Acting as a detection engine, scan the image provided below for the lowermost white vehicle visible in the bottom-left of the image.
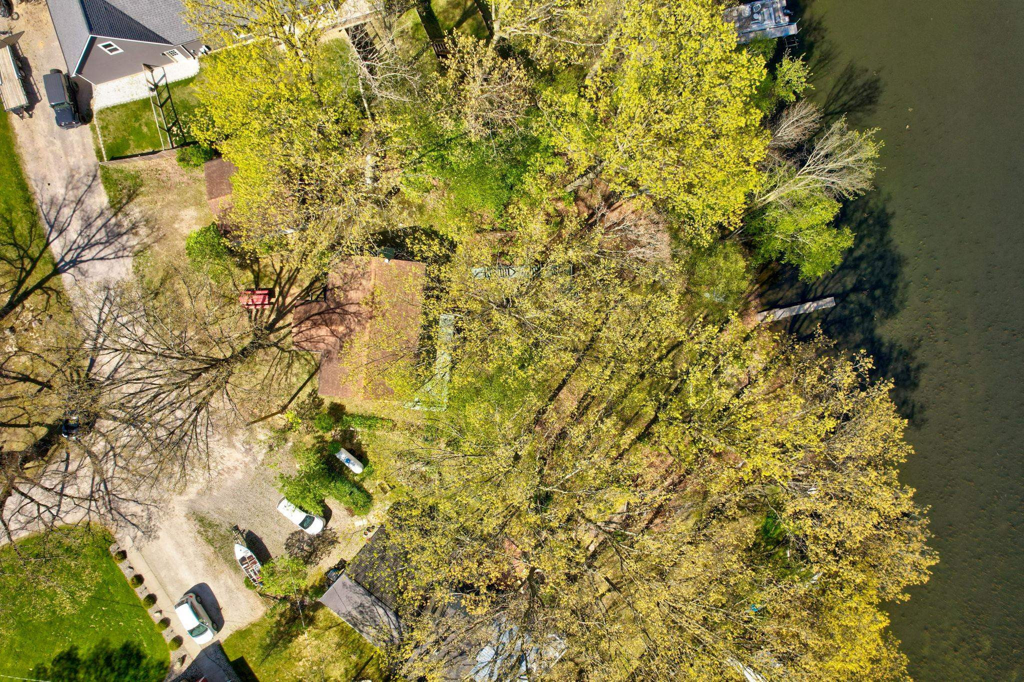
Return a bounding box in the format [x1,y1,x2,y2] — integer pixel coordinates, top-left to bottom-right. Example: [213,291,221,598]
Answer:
[171,590,216,645]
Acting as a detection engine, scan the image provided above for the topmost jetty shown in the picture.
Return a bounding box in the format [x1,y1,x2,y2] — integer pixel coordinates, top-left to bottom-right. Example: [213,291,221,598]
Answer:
[736,17,802,46]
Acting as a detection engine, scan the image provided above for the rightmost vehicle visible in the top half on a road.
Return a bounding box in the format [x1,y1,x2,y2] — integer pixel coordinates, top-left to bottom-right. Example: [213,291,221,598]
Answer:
[41,66,82,125]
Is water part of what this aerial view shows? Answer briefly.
Yes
